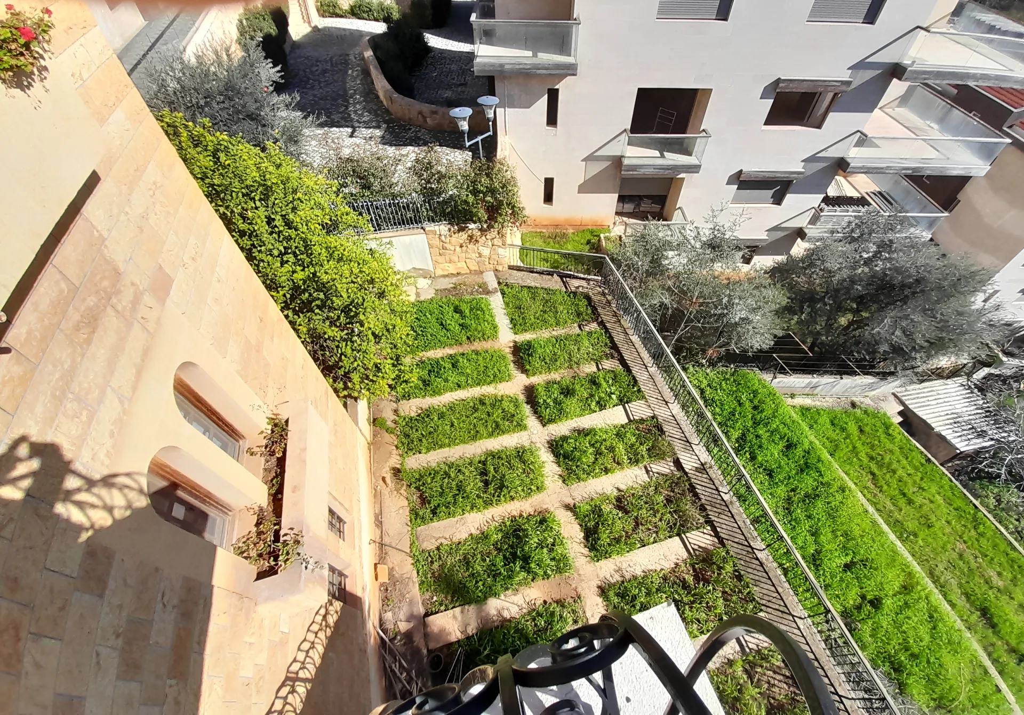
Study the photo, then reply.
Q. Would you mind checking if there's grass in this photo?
Yes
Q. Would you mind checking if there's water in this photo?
No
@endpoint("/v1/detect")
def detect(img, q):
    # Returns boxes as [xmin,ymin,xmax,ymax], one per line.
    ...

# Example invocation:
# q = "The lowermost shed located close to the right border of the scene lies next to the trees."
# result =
[876,375,1004,464]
